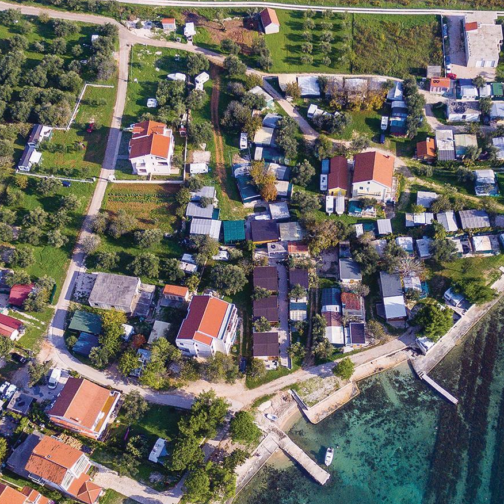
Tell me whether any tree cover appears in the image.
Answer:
Yes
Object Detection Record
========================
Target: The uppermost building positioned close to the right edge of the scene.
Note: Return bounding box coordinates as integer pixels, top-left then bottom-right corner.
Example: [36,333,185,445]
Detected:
[460,12,499,75]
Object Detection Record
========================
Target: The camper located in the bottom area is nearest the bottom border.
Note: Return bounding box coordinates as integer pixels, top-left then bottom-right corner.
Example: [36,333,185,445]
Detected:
[150,438,173,465]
